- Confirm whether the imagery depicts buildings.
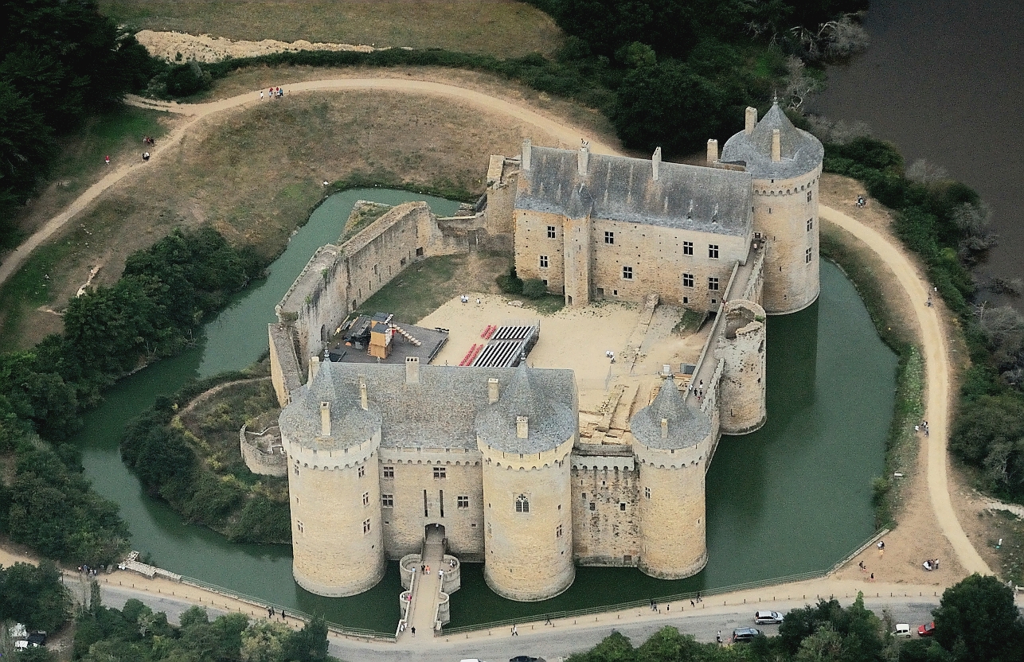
Yes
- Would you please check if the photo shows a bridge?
Yes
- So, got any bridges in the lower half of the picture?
Yes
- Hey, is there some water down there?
Yes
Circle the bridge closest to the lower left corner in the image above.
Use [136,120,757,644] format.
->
[394,538,463,653]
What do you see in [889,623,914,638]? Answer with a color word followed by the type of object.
white car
